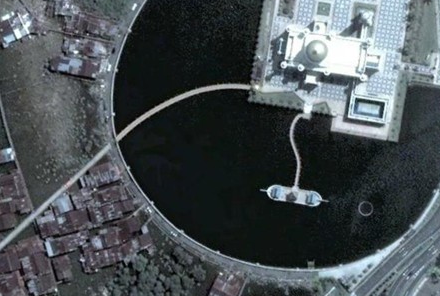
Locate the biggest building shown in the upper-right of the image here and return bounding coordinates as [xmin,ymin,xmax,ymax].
[273,22,380,84]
